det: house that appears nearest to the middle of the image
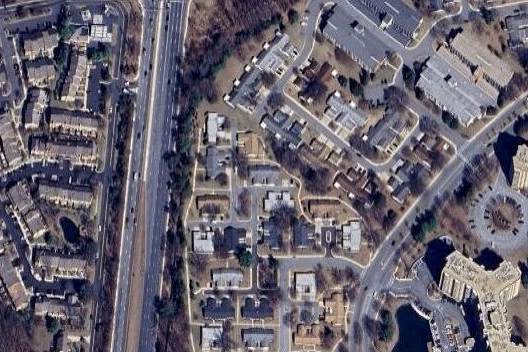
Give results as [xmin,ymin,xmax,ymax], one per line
[248,169,280,187]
